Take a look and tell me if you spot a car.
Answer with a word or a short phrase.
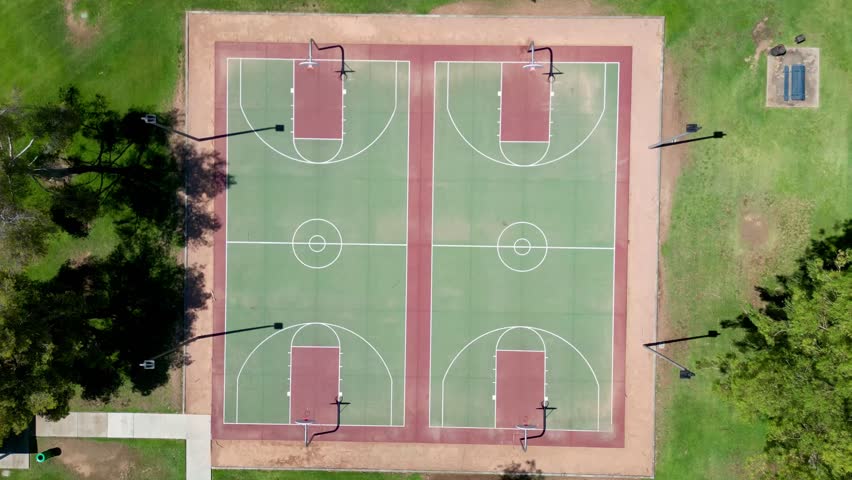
No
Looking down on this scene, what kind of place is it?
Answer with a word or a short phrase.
sports ground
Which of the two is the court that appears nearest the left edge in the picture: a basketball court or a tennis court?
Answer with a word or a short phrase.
basketball court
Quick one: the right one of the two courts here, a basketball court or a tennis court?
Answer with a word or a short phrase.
basketball court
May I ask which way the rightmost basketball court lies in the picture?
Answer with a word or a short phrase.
vertically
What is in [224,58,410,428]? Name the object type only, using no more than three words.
basketball court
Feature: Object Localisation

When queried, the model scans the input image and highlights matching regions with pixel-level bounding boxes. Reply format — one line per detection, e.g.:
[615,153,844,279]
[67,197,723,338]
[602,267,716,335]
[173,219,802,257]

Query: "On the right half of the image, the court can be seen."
[429,61,620,432]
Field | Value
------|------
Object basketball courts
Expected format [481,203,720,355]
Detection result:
[224,58,410,428]
[429,61,620,432]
